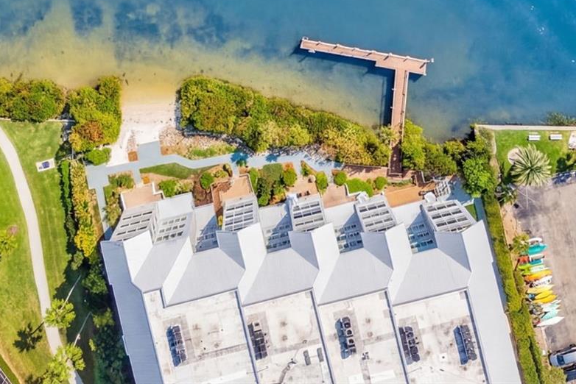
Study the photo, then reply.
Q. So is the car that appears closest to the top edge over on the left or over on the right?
right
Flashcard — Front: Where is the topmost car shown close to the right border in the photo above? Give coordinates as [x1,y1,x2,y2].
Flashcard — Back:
[548,345,576,367]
